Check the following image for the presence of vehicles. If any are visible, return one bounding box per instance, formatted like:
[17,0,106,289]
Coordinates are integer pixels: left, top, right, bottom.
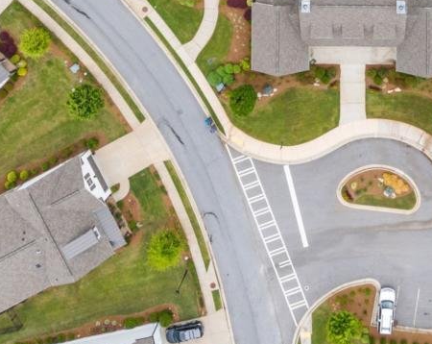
[377,291,397,335]
[165,322,206,344]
